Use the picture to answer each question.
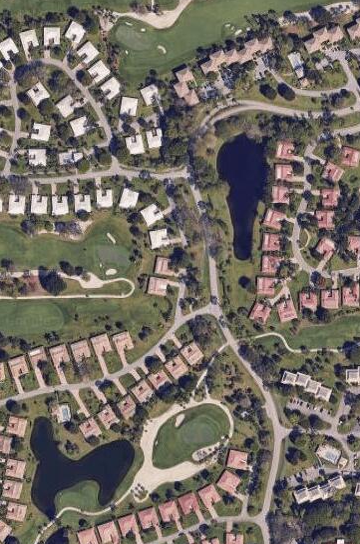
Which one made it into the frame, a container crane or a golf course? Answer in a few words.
golf course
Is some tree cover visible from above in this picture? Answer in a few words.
Yes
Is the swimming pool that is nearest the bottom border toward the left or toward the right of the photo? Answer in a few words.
right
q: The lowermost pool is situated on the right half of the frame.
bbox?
[317,444,341,464]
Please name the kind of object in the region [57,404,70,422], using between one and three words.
swimming pool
